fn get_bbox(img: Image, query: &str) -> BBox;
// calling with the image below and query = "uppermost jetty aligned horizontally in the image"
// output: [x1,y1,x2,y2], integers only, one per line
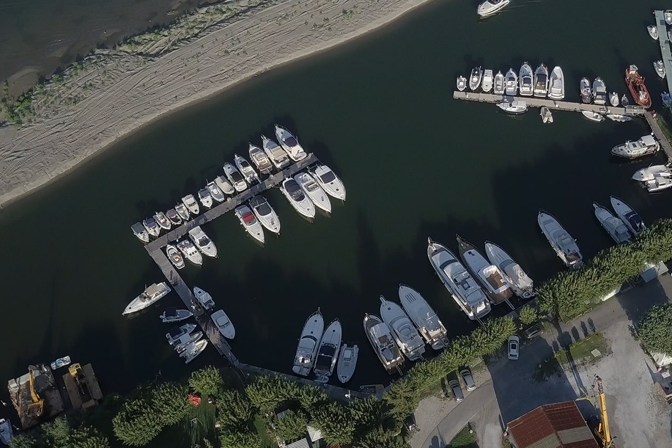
[454,91,626,117]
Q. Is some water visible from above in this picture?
Yes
